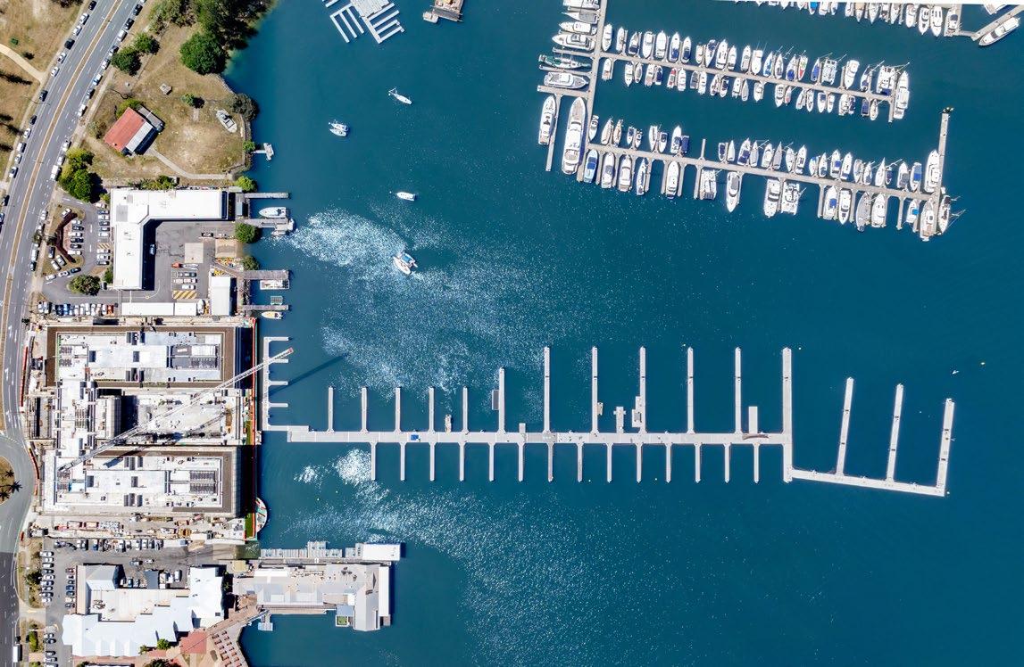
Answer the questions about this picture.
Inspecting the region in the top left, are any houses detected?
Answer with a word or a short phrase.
Yes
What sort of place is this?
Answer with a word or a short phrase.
port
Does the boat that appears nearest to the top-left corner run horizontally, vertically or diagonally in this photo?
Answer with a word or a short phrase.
diagonally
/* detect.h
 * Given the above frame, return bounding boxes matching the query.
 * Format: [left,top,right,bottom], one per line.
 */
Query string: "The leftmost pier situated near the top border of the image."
[325,0,403,44]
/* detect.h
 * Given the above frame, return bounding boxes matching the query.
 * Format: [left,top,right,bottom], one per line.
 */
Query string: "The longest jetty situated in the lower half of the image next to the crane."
[268,347,913,485]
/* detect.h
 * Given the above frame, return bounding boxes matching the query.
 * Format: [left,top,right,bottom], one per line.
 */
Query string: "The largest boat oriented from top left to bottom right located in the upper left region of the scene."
[219,109,239,133]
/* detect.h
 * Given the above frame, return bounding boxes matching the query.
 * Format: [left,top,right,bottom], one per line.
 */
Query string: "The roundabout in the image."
[0,432,34,553]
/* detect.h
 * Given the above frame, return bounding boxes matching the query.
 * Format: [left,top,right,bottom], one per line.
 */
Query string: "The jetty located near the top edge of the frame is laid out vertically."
[537,0,606,182]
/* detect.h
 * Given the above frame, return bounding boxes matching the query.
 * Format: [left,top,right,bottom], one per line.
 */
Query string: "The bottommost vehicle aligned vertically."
[12,636,24,665]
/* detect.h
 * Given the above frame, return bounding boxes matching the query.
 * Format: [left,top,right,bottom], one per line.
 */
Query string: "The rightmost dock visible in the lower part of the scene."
[790,378,954,496]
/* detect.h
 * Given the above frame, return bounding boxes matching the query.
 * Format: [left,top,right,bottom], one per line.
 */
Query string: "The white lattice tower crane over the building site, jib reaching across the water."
[56,347,293,473]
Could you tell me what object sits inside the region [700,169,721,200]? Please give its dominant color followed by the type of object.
white boat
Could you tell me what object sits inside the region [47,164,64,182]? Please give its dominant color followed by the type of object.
white vehicle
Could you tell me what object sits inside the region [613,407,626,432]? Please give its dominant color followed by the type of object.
white ship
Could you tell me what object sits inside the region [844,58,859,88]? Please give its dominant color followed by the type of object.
white boat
